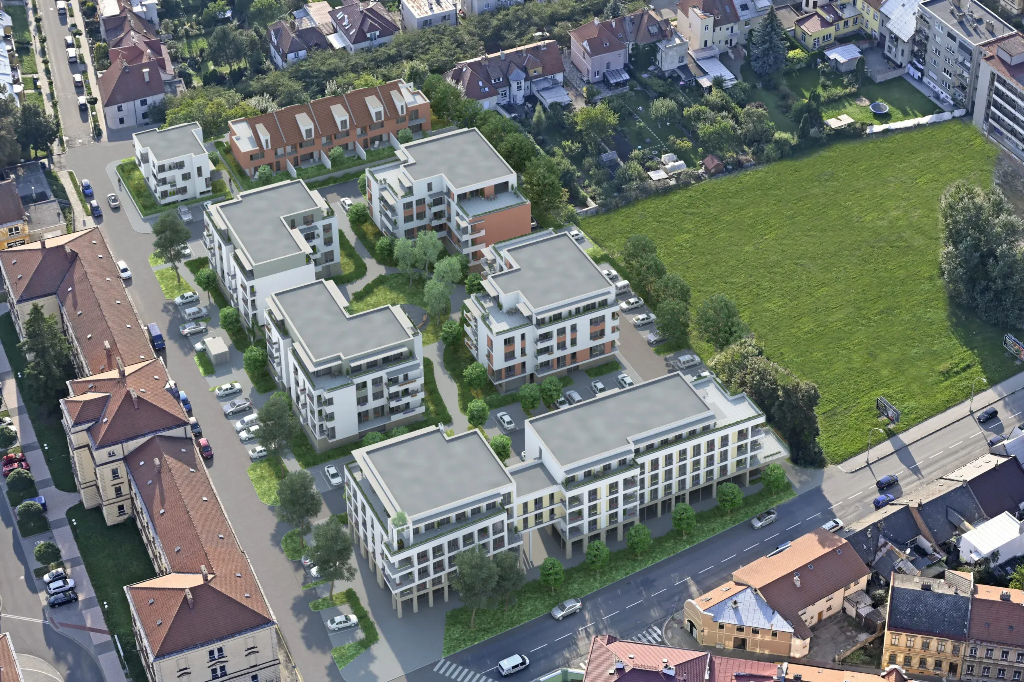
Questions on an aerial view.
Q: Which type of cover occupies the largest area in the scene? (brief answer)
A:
buildings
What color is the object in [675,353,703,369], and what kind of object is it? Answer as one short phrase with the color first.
gray car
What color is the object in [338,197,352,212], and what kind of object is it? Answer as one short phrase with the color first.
white car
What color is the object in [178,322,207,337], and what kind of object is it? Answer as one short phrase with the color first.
gray car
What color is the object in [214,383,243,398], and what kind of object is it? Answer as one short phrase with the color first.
white car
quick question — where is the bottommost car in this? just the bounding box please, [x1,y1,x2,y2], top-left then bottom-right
[496,653,532,676]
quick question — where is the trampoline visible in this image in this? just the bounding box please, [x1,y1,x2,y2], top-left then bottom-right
[869,99,891,111]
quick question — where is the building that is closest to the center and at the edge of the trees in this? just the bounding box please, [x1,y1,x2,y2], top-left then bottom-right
[459,227,624,394]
